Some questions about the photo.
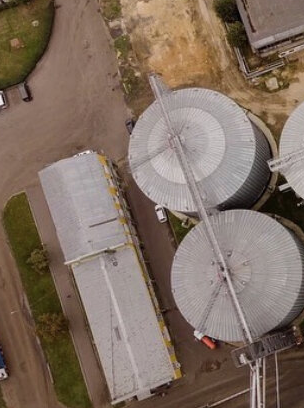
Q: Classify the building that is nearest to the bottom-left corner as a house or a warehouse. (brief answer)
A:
warehouse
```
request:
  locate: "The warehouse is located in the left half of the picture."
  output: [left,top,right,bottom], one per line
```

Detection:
[39,154,182,402]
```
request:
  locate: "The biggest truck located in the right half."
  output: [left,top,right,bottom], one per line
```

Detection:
[188,328,216,352]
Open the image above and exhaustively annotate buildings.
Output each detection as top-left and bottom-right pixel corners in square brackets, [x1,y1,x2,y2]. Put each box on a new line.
[237,0,304,61]
[39,154,182,402]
